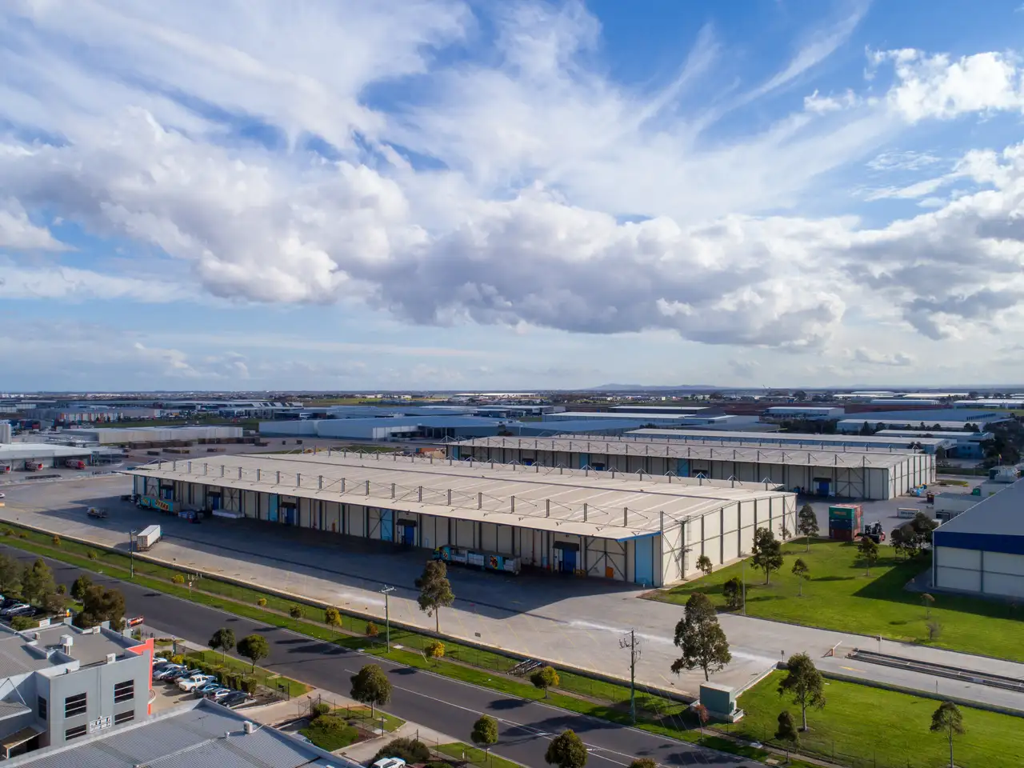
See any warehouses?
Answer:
Yes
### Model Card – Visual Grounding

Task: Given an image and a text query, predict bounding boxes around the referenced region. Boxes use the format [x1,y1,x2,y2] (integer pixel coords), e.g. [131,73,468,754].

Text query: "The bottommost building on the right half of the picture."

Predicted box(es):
[671,674,743,724]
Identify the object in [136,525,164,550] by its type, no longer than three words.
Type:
vehicle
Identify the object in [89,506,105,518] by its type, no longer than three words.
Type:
vehicle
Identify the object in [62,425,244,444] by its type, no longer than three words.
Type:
shed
